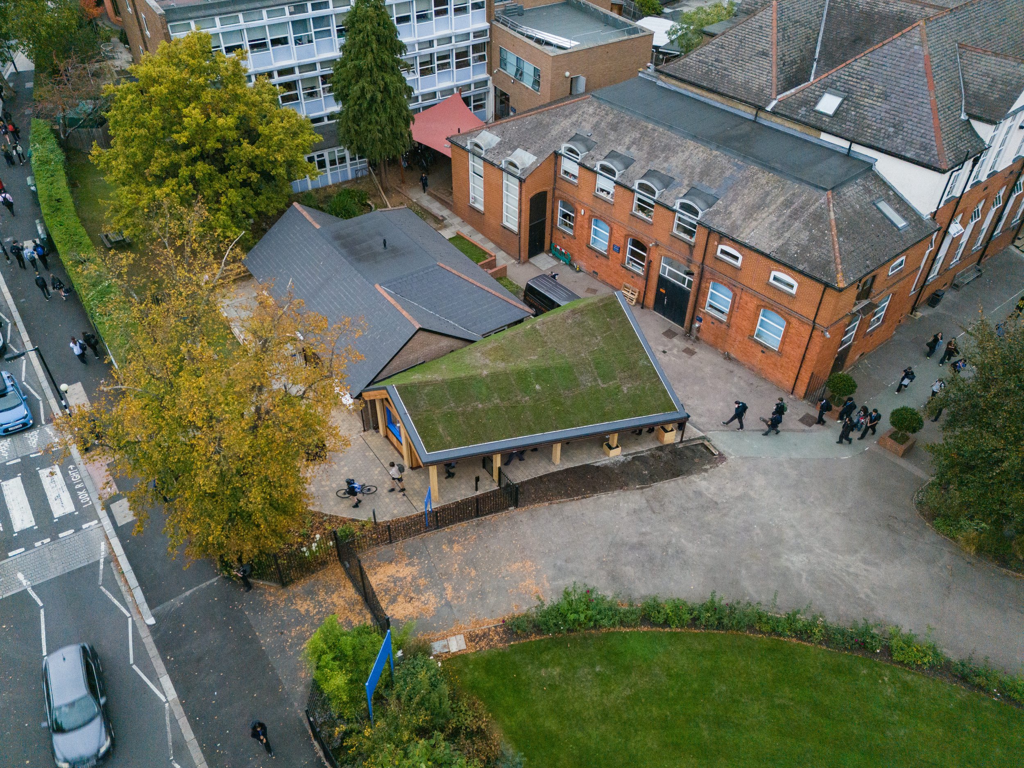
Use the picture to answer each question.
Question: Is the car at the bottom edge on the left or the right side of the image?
left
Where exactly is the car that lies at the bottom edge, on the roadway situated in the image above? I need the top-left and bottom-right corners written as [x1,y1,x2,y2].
[38,634,117,768]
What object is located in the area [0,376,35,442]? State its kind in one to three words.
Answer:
car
